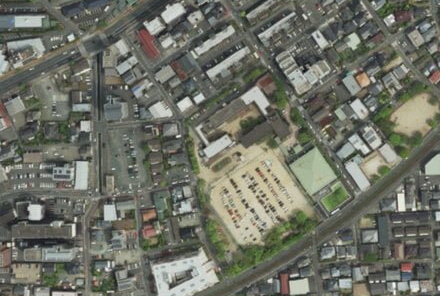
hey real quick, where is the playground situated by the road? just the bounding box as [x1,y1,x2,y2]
[392,93,438,134]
